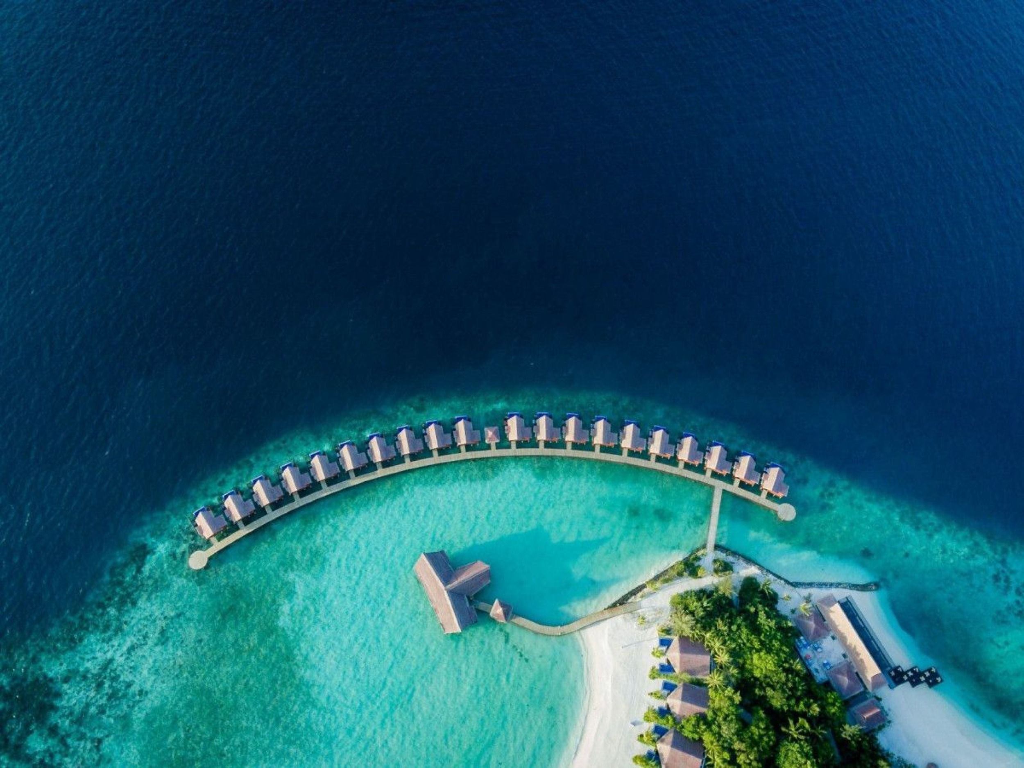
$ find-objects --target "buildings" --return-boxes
[657,728,705,768]
[560,414,588,443]
[618,420,645,451]
[702,442,730,473]
[490,597,512,622]
[758,462,787,495]
[414,549,491,633]
[366,432,396,462]
[394,425,425,454]
[817,594,888,692]
[280,461,314,492]
[196,505,233,537]
[826,661,864,699]
[730,450,759,483]
[667,682,710,722]
[674,432,702,464]
[531,413,560,442]
[225,488,260,520]
[589,417,617,446]
[503,413,531,442]
[308,449,342,480]
[485,427,500,443]
[252,473,287,505]
[646,427,674,457]
[854,698,887,731]
[666,636,714,676]
[337,440,369,470]
[451,416,481,445]
[422,419,452,449]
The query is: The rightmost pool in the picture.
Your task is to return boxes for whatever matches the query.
[835,593,895,689]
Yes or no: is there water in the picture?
Yes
